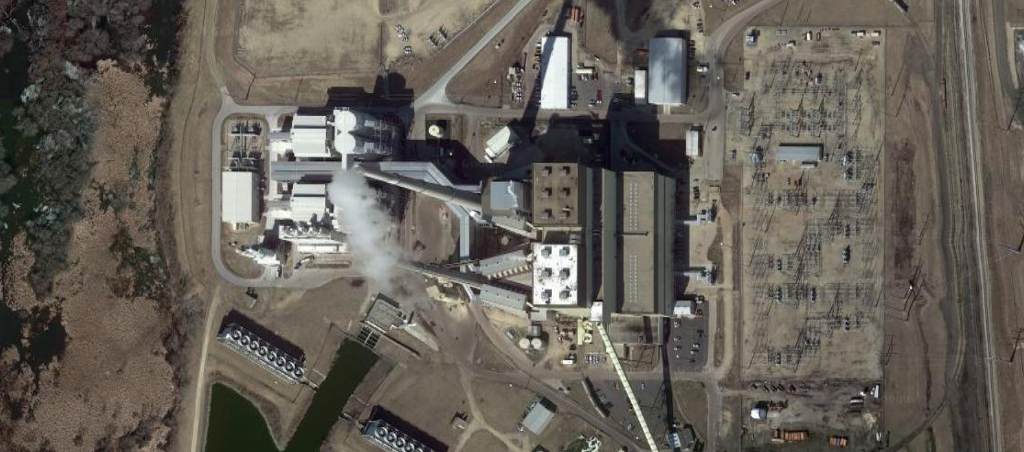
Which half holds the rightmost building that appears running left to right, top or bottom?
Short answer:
top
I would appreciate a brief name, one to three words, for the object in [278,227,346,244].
building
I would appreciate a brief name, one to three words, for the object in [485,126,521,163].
house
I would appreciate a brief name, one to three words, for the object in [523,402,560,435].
shed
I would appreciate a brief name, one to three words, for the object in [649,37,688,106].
building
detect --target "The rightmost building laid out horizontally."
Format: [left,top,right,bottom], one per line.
[775,144,823,166]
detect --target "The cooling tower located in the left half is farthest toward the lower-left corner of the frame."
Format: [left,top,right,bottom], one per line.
[220,320,322,389]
